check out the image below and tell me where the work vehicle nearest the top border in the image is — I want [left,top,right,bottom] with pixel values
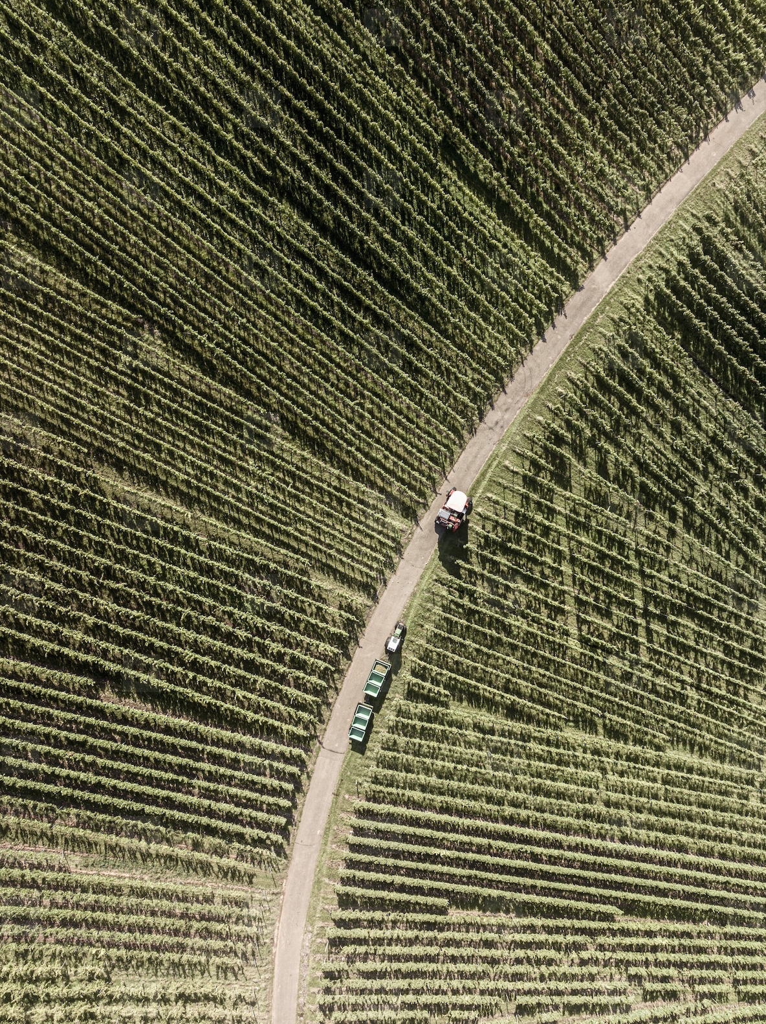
[434,486,474,534]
